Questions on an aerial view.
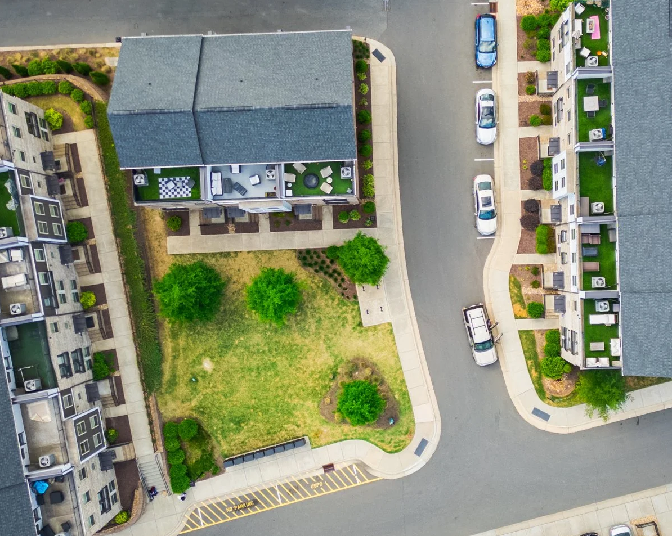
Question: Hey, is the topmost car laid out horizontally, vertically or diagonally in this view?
vertically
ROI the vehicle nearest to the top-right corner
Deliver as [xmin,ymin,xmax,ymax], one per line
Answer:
[474,12,500,68]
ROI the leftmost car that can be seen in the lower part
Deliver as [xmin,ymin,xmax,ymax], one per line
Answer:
[464,305,502,365]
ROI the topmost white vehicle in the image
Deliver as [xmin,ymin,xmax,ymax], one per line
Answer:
[474,88,500,144]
